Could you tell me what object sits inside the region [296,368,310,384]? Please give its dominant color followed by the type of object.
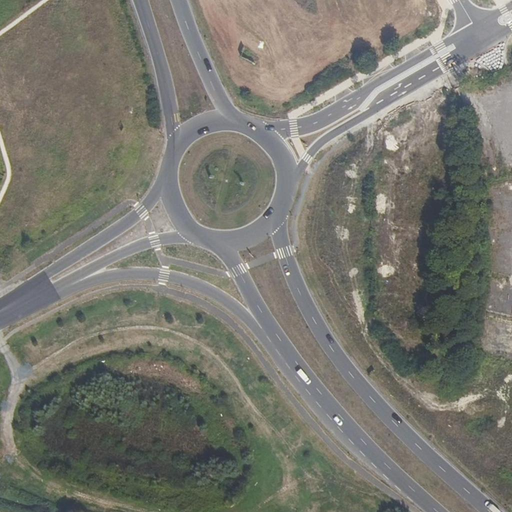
white vehicle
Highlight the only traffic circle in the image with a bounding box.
[144,108,303,256]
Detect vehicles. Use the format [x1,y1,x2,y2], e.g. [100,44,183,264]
[204,58,212,70]
[264,125,275,130]
[296,368,310,384]
[334,416,343,426]
[198,128,210,134]
[264,207,272,217]
[326,333,334,344]
[247,122,258,130]
[392,414,402,424]
[486,503,500,512]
